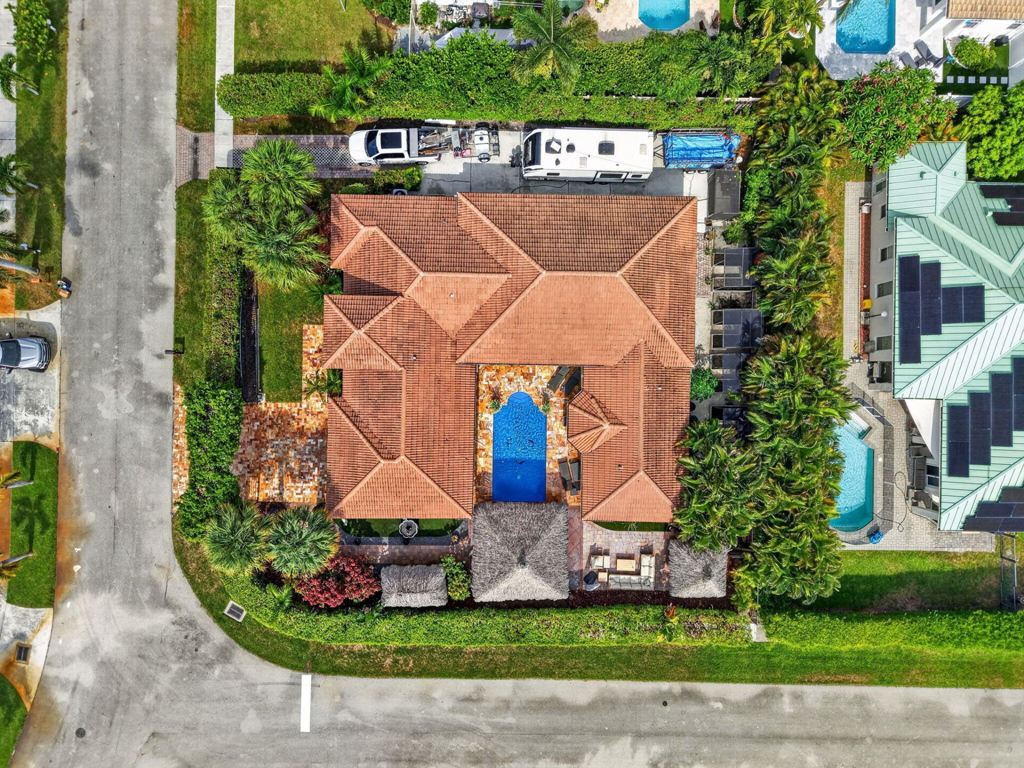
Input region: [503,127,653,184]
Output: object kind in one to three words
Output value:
trailer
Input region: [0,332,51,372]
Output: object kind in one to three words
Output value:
car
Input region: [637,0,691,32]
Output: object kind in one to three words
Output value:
swimming pool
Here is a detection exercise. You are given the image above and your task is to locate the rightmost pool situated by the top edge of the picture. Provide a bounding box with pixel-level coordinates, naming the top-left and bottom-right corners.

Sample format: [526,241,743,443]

[835,0,897,55]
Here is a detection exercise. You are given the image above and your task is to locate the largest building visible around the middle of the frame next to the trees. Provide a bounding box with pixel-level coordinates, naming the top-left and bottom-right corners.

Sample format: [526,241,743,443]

[322,191,699,524]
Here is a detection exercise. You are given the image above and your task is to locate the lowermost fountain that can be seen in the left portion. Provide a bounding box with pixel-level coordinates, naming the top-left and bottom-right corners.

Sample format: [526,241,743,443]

[399,520,417,537]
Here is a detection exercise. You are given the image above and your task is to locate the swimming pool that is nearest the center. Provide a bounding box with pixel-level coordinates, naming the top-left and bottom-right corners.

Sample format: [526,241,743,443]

[492,391,546,503]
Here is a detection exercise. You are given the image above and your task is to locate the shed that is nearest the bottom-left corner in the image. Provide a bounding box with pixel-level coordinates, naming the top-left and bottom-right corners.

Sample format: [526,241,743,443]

[378,560,451,611]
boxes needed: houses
[872,143,1024,533]
[322,191,699,524]
[921,0,1024,43]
